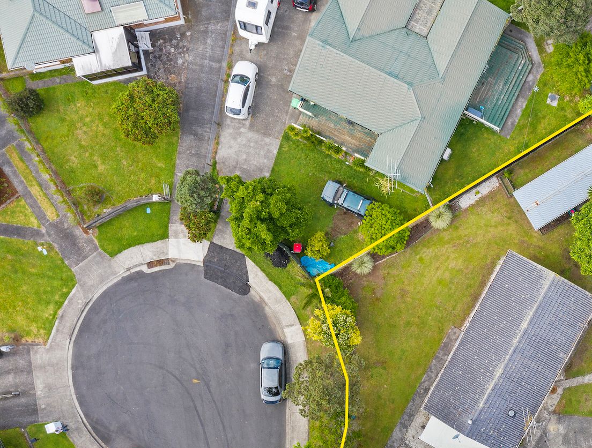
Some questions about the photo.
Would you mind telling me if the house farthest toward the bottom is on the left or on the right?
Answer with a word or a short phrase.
right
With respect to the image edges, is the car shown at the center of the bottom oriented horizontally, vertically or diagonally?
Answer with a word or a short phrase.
vertically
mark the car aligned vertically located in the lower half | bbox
[257,342,288,404]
